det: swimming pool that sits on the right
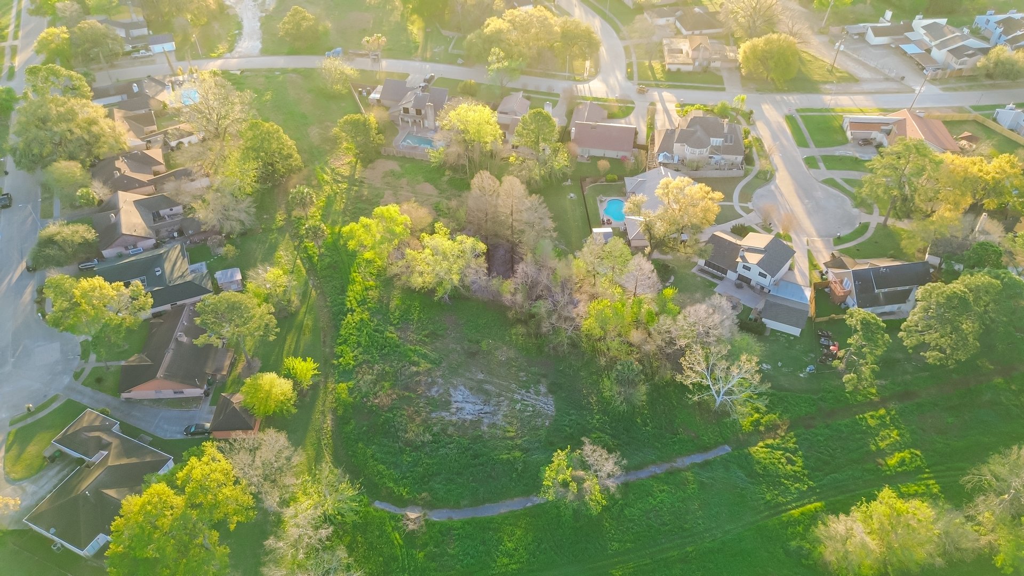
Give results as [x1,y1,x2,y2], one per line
[603,198,626,222]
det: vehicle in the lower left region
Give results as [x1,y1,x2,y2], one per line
[180,422,209,435]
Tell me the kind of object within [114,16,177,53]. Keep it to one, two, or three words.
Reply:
house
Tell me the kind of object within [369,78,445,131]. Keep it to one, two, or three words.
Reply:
building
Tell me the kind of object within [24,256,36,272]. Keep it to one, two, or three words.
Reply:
vehicle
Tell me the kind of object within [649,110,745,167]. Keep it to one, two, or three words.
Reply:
house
